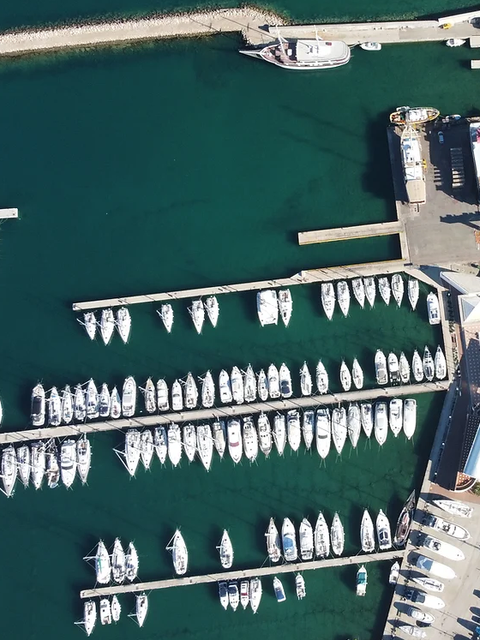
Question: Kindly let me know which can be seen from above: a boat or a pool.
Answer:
boat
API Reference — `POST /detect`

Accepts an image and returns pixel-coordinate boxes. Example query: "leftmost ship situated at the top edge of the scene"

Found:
[243,22,350,67]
